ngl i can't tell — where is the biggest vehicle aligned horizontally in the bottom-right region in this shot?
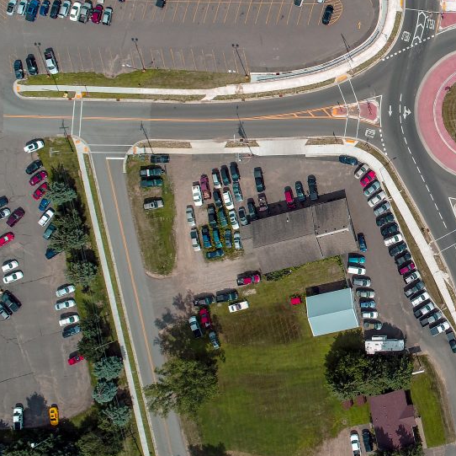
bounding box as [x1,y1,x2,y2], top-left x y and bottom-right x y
[365,334,411,353]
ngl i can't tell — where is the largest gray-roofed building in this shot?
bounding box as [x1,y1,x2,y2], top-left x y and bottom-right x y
[252,198,359,274]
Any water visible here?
No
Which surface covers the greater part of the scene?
paved ground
